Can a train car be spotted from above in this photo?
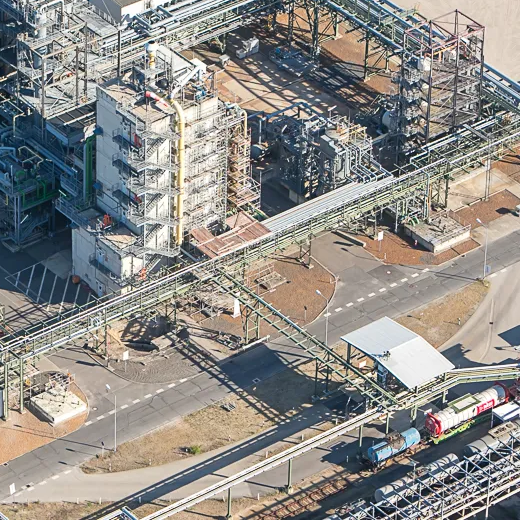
Yes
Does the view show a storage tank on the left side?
No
